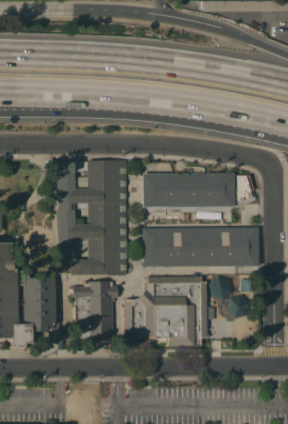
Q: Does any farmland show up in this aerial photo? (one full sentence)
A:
No, the picture contains no farmland.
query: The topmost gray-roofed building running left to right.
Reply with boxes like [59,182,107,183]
[144,173,238,211]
